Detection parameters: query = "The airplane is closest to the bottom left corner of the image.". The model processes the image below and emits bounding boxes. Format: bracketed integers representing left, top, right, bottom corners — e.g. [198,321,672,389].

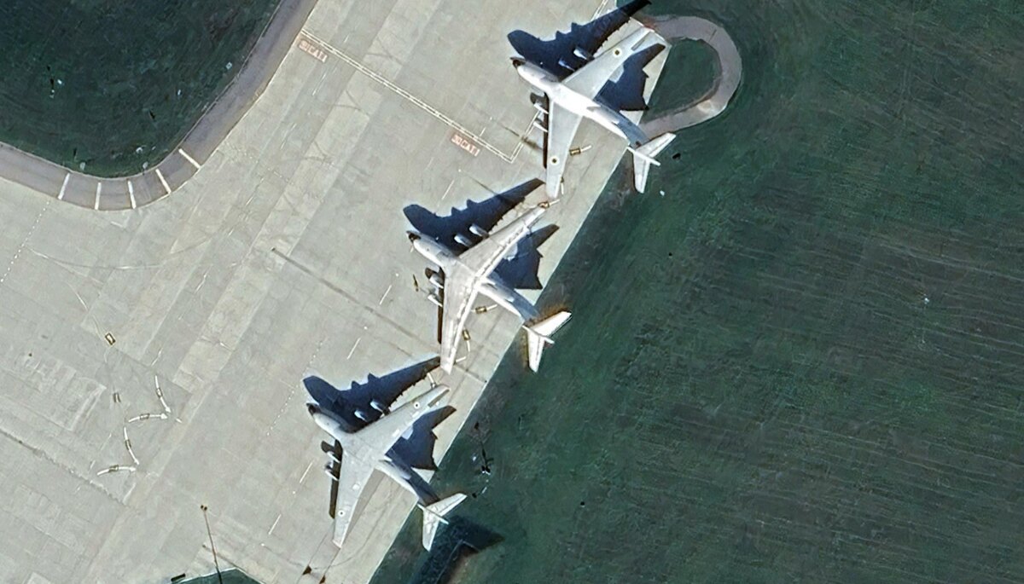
[306,384,467,551]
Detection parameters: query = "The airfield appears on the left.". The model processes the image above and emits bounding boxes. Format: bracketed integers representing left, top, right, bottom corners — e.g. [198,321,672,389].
[0,0,742,584]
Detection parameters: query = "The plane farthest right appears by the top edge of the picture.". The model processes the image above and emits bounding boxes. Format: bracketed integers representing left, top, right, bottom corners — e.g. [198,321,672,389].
[509,27,677,197]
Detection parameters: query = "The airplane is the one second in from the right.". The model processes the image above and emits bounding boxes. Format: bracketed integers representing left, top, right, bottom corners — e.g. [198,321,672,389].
[404,204,571,373]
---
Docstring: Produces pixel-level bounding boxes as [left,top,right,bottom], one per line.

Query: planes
[509,27,677,197]
[306,384,467,551]
[404,204,571,373]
